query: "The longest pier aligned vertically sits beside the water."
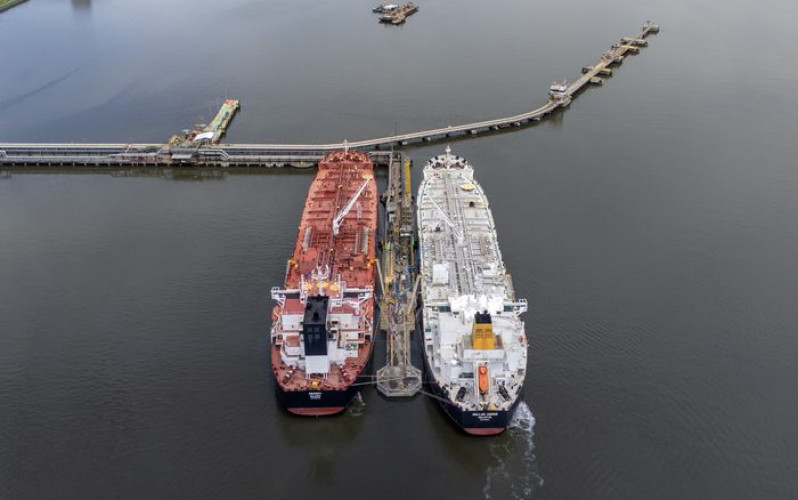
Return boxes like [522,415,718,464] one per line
[376,150,420,393]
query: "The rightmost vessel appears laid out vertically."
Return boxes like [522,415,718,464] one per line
[418,146,531,437]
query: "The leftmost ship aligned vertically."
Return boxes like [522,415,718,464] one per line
[267,141,377,417]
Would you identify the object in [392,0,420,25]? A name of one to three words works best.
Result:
ship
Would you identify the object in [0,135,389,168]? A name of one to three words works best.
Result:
pier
